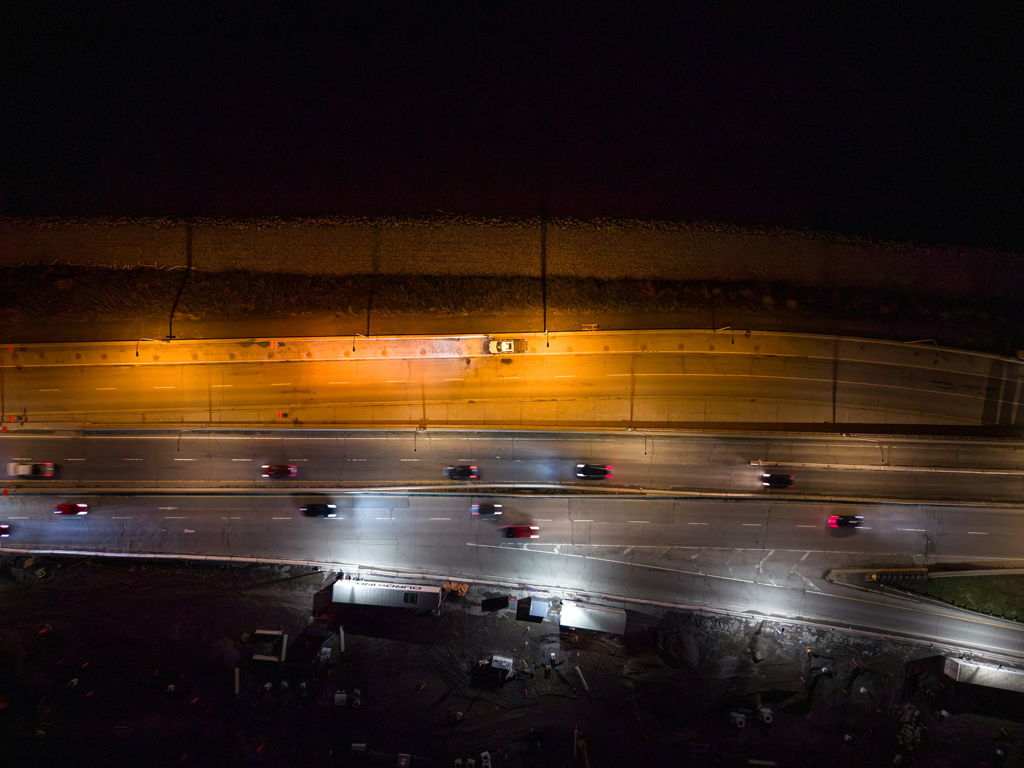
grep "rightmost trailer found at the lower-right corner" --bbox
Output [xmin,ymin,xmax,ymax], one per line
[944,656,1024,692]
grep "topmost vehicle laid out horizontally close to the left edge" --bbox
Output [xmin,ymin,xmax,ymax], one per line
[11,463,52,478]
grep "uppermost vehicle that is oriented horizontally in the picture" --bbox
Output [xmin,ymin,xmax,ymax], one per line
[489,339,528,355]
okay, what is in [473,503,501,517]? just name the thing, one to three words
car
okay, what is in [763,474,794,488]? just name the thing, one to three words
car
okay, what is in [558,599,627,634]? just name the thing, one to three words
shipping container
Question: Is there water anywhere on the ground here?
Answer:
Yes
